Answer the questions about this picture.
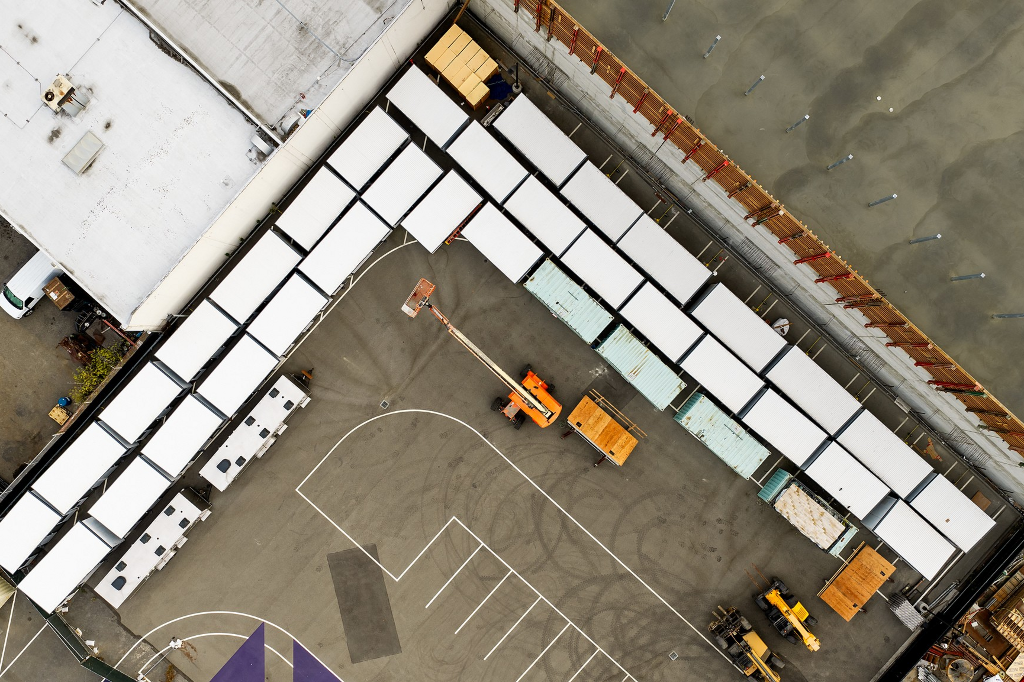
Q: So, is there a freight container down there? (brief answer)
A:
Yes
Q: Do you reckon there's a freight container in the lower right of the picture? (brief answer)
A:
Yes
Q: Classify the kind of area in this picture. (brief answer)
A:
industrial area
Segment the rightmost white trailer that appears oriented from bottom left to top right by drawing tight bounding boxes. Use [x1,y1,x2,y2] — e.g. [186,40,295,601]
[199,365,316,492]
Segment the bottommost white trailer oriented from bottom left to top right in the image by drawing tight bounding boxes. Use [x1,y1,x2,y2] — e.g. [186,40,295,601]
[96,483,214,609]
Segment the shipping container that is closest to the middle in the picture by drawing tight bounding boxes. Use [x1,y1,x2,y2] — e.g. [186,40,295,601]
[523,258,613,343]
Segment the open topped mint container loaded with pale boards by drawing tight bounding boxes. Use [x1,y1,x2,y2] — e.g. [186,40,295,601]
[756,467,859,557]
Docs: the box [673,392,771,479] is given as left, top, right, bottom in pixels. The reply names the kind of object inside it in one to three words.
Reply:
shipping container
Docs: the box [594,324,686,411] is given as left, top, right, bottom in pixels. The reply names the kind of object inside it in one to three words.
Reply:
shipping container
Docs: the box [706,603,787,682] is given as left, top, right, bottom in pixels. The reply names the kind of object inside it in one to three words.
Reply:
work vehicle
